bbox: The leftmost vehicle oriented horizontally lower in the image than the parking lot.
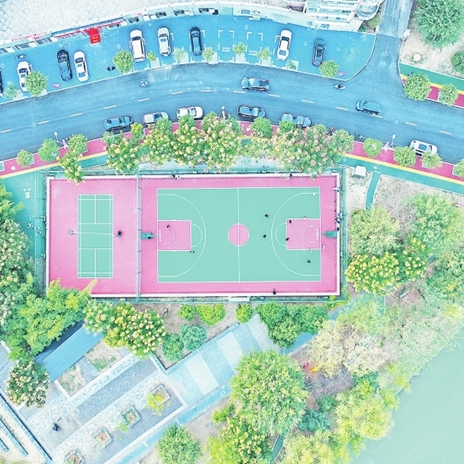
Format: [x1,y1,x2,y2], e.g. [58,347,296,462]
[103,115,134,131]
